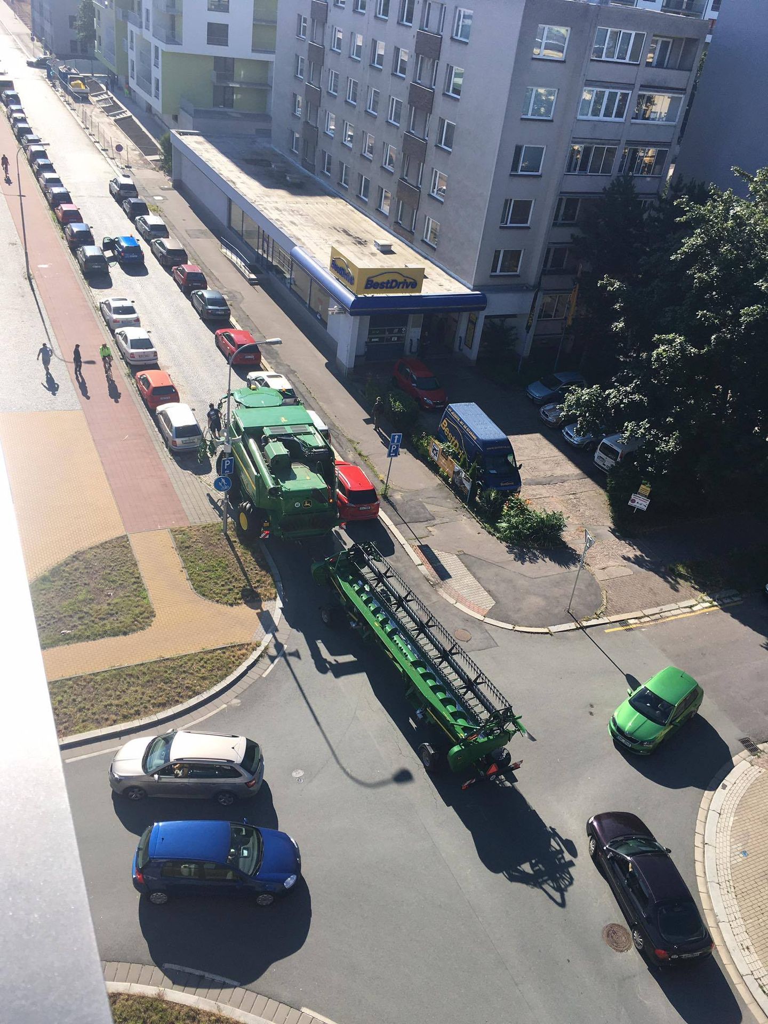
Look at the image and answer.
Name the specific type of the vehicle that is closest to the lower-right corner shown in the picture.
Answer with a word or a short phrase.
automobile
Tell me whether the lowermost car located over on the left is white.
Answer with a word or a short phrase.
No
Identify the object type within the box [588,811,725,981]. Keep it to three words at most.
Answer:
car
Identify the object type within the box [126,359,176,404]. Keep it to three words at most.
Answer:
car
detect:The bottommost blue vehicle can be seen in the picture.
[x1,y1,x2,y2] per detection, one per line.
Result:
[127,812,300,902]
